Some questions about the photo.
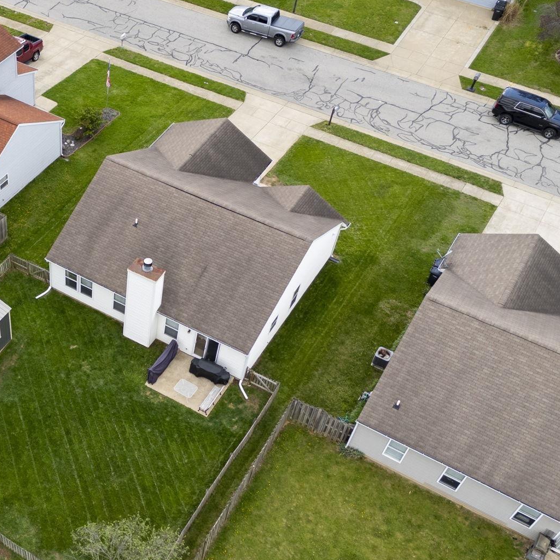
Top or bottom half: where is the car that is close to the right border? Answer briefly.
top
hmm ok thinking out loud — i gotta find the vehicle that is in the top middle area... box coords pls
[226,3,307,46]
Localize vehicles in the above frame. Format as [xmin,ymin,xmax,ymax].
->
[226,3,307,46]
[12,30,43,65]
[489,87,560,141]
